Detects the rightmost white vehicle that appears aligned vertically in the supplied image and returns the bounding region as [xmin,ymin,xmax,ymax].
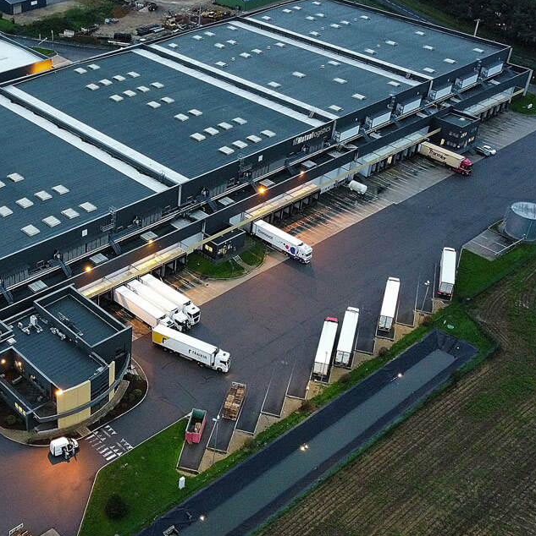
[438,248,455,297]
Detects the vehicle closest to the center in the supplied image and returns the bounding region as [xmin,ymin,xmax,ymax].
[253,219,313,263]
